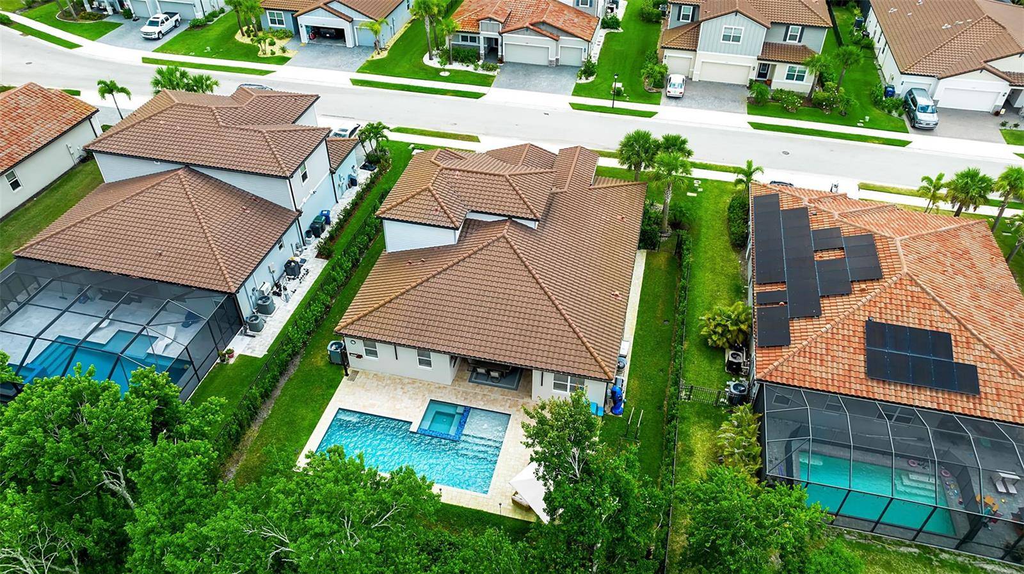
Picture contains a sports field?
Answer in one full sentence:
No, I find no sports field anywhere in the image.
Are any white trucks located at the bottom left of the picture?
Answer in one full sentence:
No, at the bottom left of the picture there is no white truck.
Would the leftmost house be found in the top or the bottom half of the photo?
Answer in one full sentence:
Seen from above, the leftmost house lies in the top half of the view.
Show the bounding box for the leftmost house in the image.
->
[0,78,108,220]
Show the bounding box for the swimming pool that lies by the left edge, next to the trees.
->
[0,313,188,425]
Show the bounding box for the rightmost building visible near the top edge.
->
[866,0,1024,112]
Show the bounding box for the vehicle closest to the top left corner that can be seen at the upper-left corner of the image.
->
[135,10,182,39]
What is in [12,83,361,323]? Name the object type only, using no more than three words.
house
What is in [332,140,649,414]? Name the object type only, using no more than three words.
house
